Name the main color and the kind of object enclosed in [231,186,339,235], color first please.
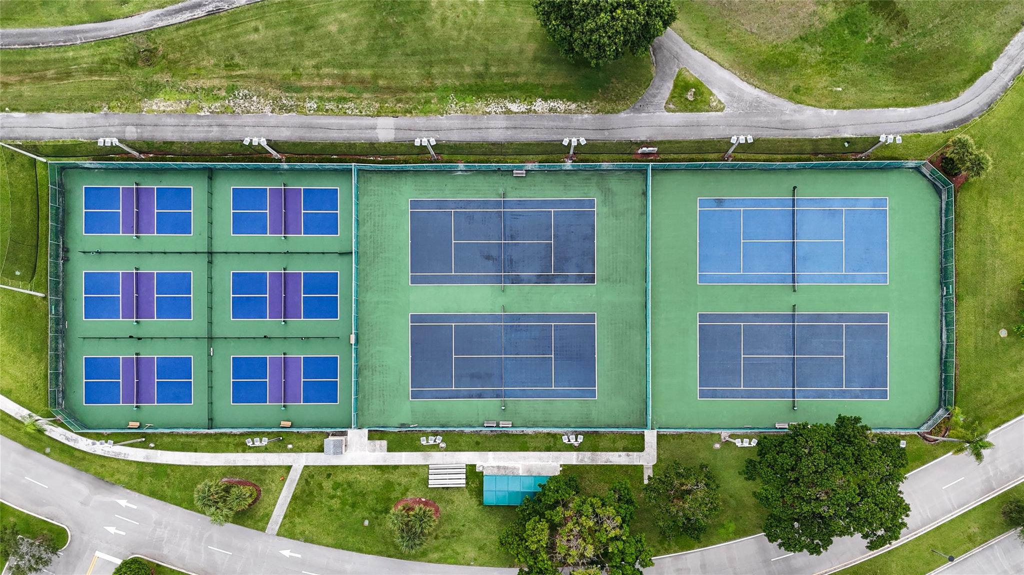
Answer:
blue sports court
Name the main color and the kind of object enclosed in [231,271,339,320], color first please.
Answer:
blue sports court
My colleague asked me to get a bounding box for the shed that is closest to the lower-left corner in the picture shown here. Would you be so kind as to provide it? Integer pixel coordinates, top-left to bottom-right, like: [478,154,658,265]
[324,436,350,456]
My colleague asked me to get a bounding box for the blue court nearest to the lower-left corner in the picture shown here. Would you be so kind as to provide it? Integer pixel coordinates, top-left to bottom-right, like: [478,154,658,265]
[83,356,193,405]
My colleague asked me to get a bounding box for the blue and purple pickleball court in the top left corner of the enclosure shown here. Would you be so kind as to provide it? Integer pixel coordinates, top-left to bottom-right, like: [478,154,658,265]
[83,186,193,235]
